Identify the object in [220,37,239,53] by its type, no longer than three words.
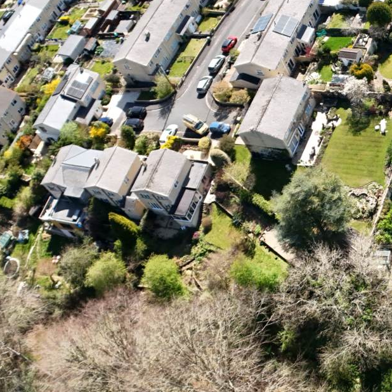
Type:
car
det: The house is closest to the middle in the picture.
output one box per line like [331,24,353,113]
[125,148,214,225]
